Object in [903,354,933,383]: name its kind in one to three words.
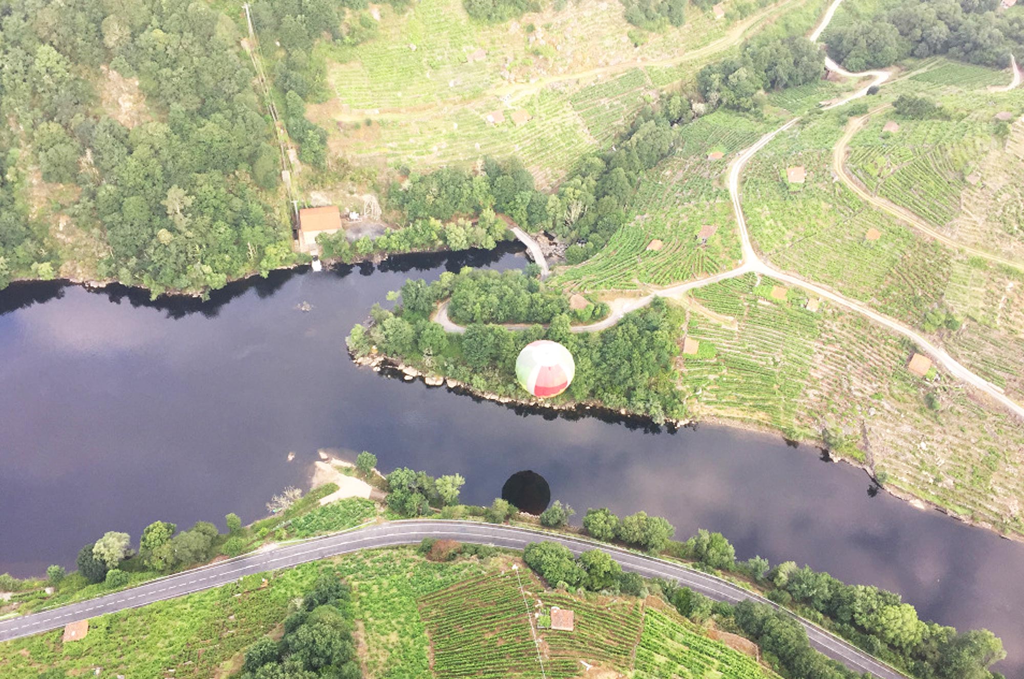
shed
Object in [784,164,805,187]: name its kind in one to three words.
shed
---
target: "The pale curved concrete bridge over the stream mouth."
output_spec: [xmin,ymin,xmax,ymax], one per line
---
[510,225,553,281]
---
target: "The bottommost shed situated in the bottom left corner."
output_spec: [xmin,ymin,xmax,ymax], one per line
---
[62,622,92,642]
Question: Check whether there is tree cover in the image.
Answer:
Yes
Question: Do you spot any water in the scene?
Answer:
Yes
